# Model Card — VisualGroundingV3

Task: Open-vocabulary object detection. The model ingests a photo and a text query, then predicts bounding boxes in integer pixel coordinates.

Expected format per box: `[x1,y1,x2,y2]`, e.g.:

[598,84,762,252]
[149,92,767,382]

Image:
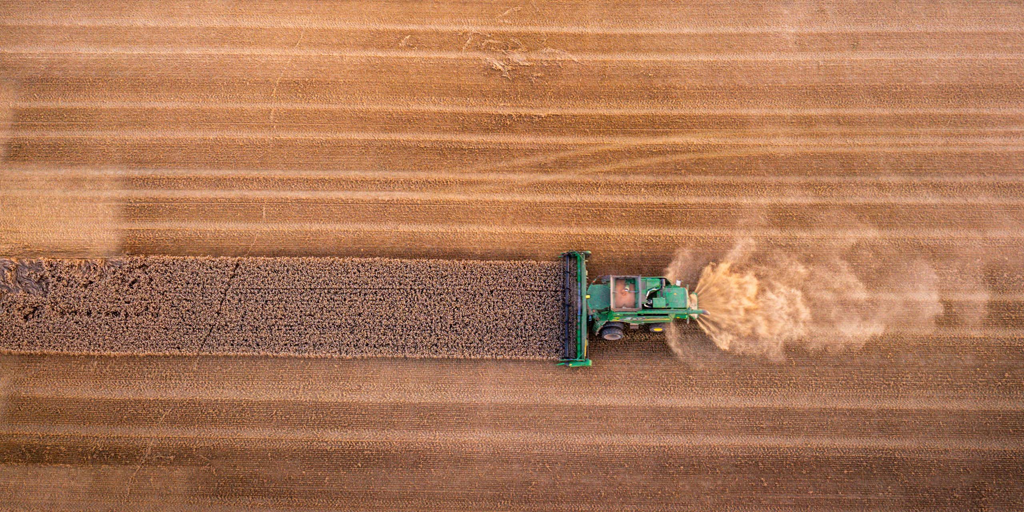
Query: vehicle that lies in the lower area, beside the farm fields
[557,250,712,366]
